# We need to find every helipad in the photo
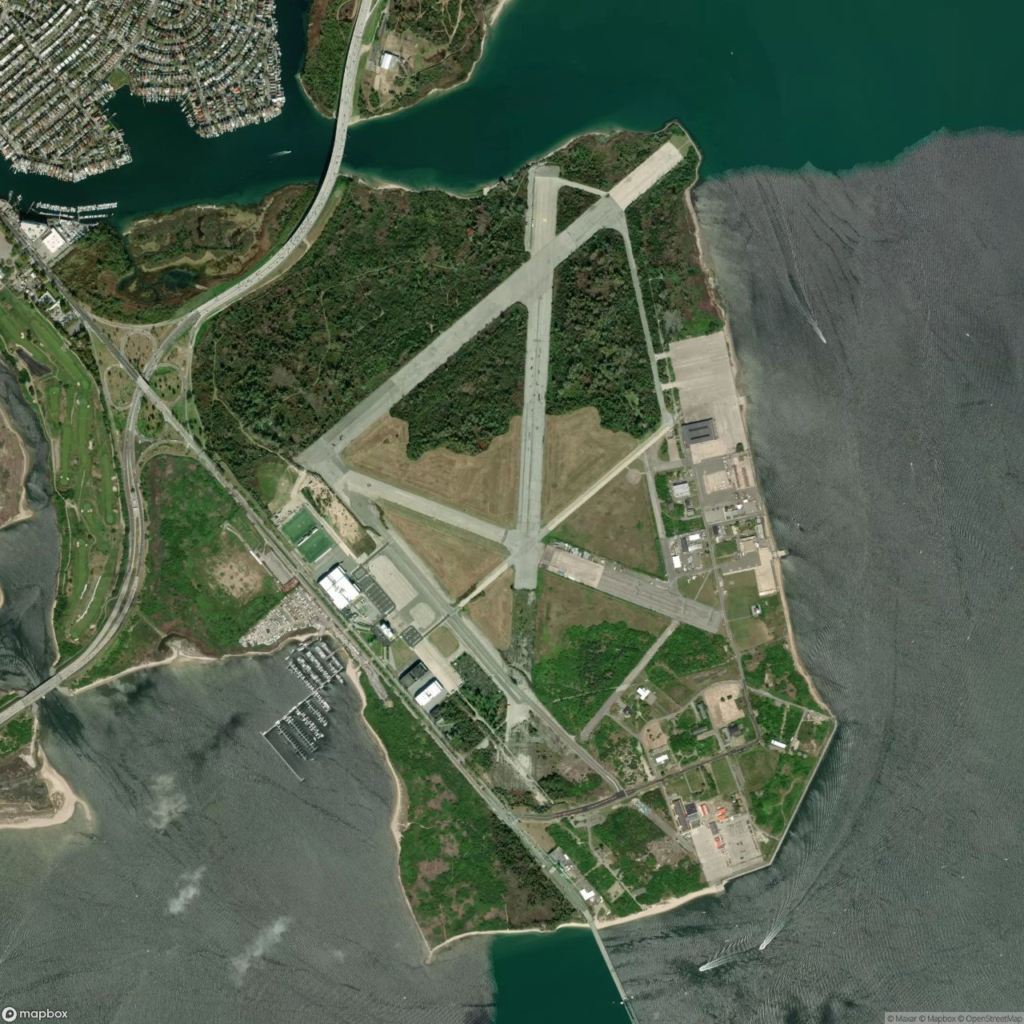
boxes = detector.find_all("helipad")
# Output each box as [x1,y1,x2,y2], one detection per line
[627,469,644,484]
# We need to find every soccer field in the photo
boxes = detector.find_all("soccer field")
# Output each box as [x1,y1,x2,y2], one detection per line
[299,528,333,563]
[282,506,318,543]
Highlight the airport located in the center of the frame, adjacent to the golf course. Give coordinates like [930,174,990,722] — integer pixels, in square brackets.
[294,142,723,805]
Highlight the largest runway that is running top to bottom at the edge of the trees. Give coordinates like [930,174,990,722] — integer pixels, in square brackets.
[517,282,554,531]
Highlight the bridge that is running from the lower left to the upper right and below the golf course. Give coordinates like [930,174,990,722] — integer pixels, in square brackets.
[0,666,70,724]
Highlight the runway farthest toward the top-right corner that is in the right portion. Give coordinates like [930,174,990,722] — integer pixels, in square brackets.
[608,142,683,210]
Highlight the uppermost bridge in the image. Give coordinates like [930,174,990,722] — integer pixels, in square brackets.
[197,0,379,315]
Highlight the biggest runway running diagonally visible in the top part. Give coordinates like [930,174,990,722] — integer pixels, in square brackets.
[355,192,624,437]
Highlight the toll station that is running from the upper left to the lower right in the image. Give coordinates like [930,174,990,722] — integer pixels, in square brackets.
[557,862,572,884]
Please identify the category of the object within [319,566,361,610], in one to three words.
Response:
hangar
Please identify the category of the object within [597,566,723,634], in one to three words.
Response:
runway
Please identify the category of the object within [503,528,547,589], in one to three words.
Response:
runway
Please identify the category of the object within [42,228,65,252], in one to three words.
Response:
building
